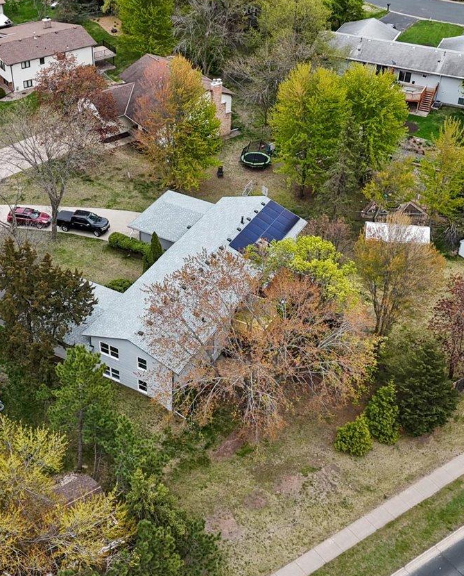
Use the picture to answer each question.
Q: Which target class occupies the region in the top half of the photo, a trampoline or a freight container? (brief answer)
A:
trampoline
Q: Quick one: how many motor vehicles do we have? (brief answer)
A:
two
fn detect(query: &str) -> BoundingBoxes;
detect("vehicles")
[7,203,50,227]
[57,207,113,235]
